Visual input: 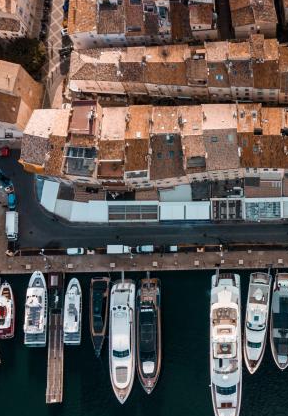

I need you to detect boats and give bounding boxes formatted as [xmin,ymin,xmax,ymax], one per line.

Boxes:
[90,277,110,356]
[22,270,51,347]
[63,277,85,347]
[244,265,271,382]
[108,270,139,411]
[269,267,288,377]
[0,281,19,339]
[208,268,242,416]
[133,270,164,402]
